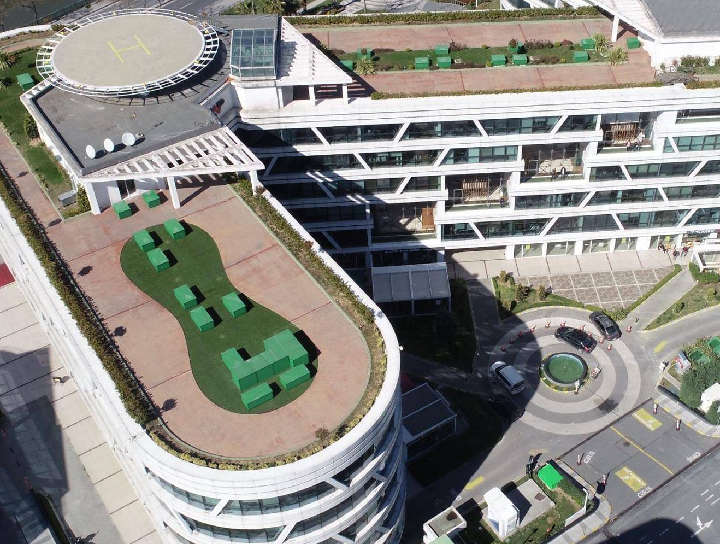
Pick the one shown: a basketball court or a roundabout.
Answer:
roundabout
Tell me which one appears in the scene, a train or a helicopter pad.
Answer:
helicopter pad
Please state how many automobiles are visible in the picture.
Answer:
4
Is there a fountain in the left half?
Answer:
No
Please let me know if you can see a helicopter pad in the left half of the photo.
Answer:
Yes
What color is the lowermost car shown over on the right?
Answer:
black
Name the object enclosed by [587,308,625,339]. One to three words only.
car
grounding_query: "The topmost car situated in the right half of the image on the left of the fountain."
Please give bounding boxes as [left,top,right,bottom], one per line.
[490,357,527,392]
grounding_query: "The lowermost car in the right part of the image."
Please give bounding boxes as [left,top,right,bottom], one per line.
[481,388,528,422]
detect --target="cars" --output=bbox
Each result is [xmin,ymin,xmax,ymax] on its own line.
[481,388,528,422]
[553,324,598,352]
[490,357,527,392]
[587,308,625,339]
